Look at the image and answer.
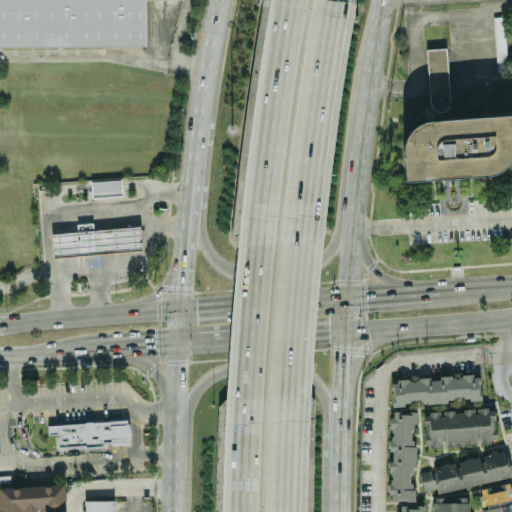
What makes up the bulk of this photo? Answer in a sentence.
The scene is dominated by paved ground.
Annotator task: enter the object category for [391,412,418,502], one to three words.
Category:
building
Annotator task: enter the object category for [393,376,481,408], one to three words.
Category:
building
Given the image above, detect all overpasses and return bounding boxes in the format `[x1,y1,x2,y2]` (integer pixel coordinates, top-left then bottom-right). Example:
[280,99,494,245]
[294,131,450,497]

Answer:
[226,215,327,424]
